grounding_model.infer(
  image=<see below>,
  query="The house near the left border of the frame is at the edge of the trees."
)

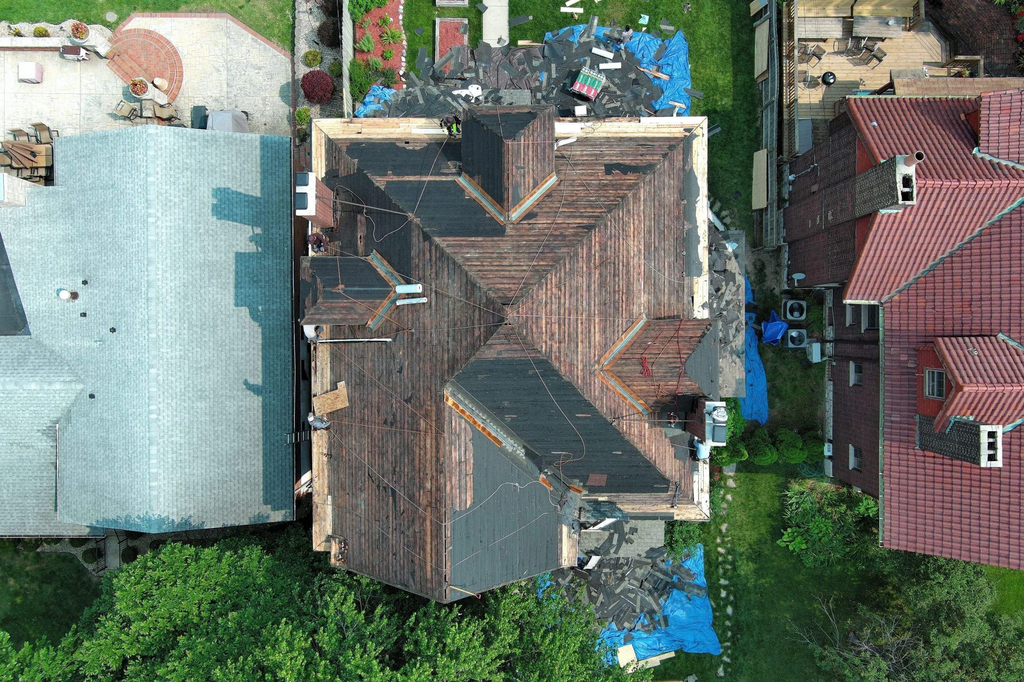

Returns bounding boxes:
[0,121,302,540]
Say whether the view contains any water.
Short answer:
No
